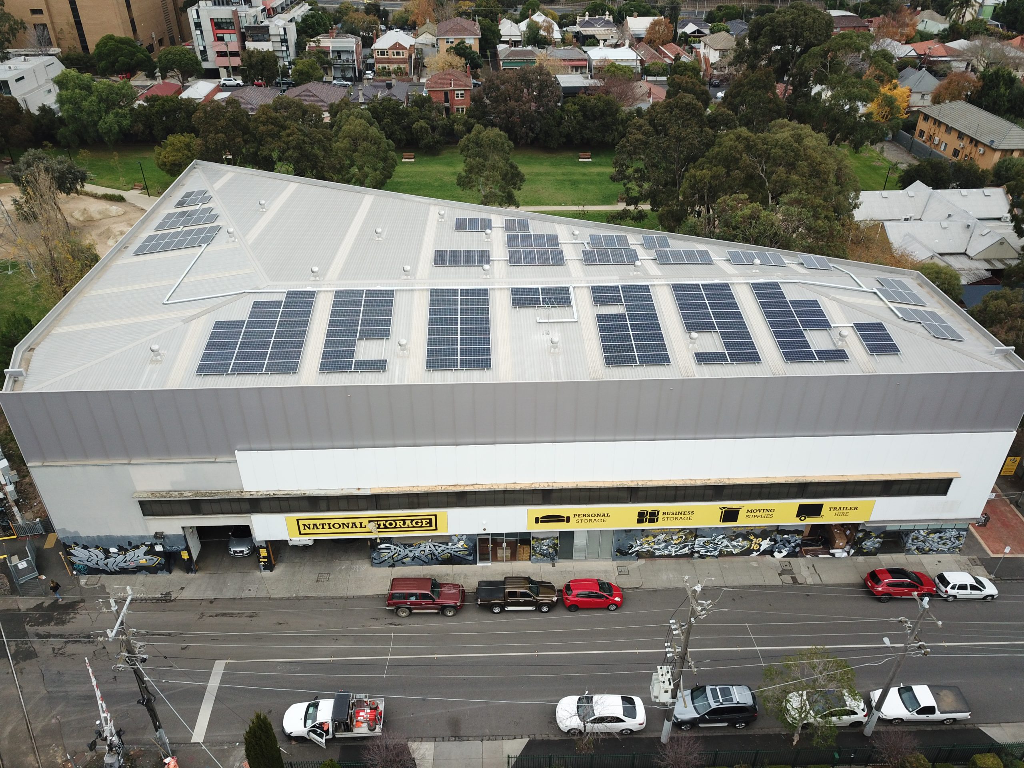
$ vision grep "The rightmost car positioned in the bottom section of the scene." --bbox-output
[929,568,997,601]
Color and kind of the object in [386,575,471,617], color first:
red car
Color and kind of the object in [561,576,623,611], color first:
red car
